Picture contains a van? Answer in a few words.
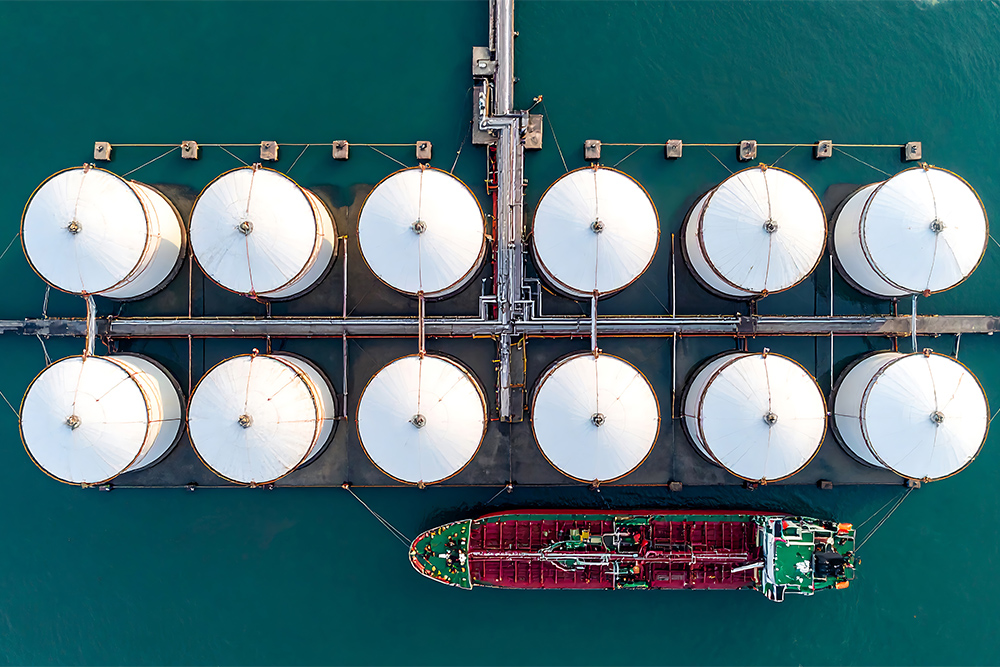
No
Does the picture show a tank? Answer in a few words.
Yes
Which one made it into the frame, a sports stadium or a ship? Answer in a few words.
ship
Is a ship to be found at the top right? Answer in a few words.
No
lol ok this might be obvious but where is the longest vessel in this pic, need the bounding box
[408,509,857,601]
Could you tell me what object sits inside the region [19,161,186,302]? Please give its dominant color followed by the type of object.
white storage tank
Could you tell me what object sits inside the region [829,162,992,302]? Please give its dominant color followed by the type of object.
white storage tank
